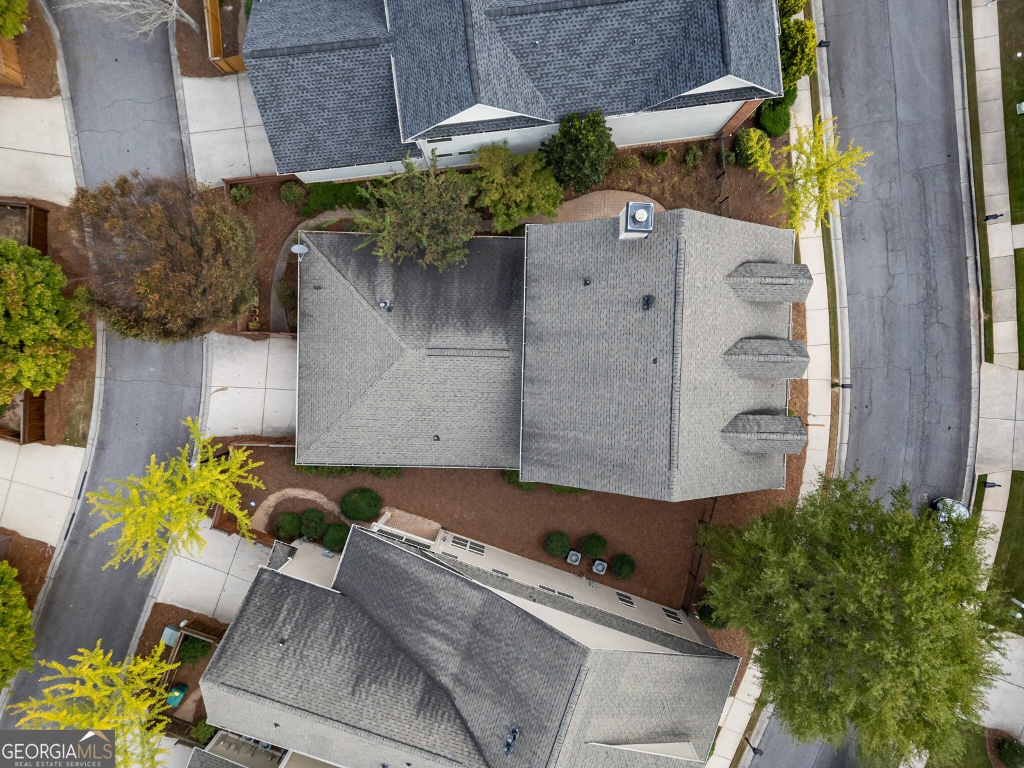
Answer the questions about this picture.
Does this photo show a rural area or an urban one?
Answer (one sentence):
It looks urban.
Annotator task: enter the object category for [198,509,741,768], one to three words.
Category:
house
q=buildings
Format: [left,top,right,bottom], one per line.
[291,202,816,501]
[198,509,741,768]
[242,0,786,184]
